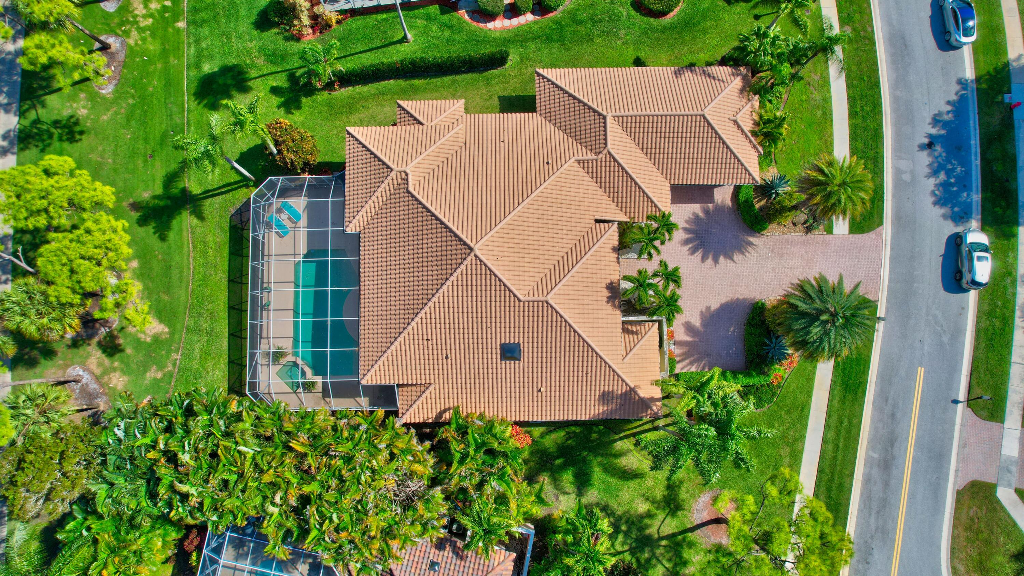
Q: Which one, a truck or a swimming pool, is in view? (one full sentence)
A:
It is a swimming pool that can be seen here.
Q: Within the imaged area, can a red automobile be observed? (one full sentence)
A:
No, there is no red automobile in the image.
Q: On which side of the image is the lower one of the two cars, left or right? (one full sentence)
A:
You can find the lower one of the two cars on the right side of the picture.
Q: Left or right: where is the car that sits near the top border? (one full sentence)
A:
It is on the right.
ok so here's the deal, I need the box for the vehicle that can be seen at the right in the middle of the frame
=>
[956,229,992,290]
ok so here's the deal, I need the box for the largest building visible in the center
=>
[343,66,764,424]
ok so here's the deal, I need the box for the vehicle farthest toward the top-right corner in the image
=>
[940,0,978,44]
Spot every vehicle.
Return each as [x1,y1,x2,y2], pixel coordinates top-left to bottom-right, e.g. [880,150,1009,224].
[956,229,992,290]
[940,0,978,44]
